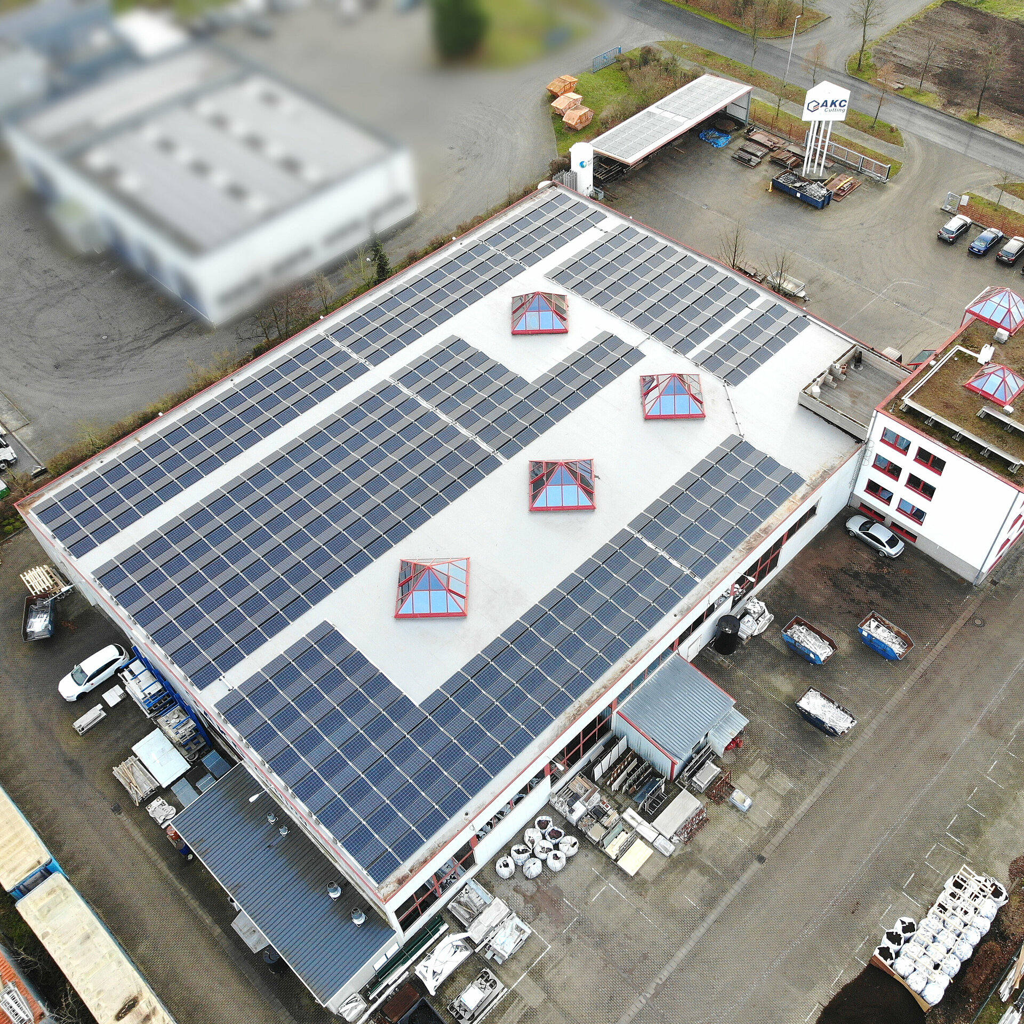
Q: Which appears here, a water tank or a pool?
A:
water tank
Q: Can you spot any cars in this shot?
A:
Yes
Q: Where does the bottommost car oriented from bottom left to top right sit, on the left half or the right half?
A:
left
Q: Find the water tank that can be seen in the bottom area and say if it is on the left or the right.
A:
right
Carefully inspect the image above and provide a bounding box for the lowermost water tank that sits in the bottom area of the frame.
[706,608,753,663]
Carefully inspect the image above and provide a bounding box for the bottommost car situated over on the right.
[843,516,909,560]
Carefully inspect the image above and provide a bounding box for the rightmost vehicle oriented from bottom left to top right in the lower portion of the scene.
[59,642,132,696]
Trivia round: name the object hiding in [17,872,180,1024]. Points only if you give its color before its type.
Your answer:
white trailer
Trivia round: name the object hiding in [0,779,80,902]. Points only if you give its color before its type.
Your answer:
white trailer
